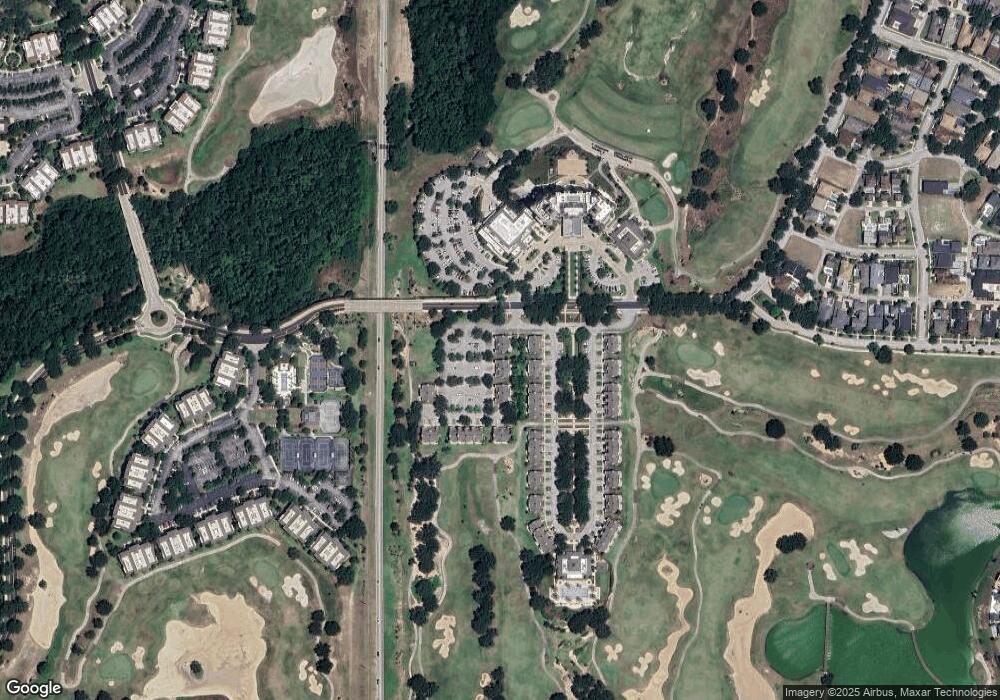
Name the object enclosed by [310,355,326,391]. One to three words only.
sports court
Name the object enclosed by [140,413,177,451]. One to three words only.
building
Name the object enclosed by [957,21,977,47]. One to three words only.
house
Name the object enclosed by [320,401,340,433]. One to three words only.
basketball court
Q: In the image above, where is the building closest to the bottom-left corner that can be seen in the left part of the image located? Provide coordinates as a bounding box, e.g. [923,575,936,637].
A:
[118,545,157,573]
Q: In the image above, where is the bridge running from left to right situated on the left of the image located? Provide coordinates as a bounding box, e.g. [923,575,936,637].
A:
[344,300,423,312]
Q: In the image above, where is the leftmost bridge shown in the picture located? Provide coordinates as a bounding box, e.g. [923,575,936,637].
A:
[117,191,161,300]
